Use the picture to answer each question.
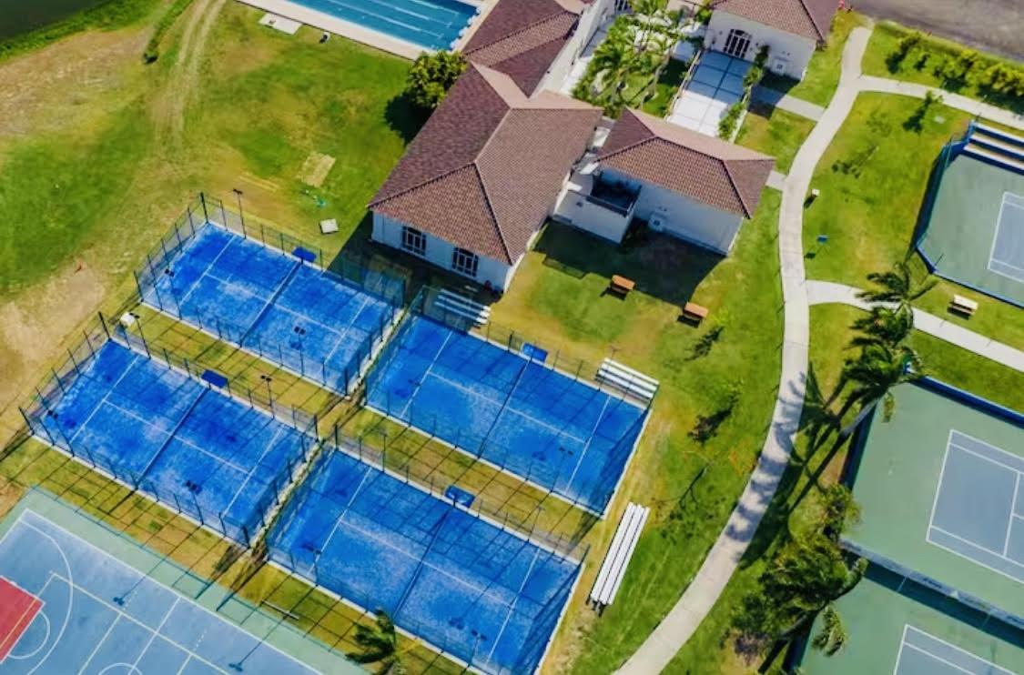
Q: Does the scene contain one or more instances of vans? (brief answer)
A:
No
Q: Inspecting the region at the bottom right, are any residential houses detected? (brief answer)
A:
No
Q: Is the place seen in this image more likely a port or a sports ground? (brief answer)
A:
sports ground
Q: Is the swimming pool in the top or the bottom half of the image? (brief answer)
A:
top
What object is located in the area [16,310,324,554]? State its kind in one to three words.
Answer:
sports court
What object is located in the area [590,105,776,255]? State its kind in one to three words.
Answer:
house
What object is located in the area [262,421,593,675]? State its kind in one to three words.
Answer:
sports court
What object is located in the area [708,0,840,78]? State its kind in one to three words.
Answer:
house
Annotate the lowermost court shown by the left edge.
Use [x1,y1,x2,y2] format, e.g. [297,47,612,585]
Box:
[0,492,365,675]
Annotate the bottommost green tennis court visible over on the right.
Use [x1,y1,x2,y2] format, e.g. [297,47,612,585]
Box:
[797,537,1024,675]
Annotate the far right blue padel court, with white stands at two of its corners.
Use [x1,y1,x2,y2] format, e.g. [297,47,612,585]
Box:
[359,284,661,522]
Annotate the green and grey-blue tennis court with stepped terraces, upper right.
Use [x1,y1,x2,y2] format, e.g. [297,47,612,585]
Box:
[917,109,1024,307]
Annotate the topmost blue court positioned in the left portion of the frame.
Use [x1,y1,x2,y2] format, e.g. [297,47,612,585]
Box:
[132,191,409,401]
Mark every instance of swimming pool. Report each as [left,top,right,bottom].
[245,0,501,66]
